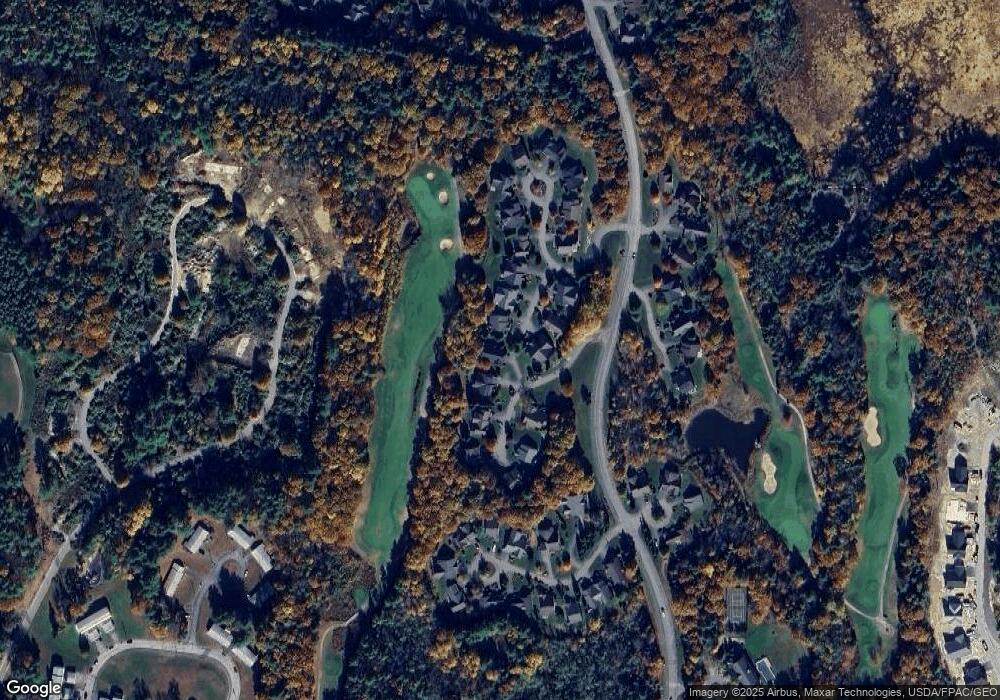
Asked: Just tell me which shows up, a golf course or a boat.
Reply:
golf course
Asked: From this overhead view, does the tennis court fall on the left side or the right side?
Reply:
right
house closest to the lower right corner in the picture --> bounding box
[965,672,988,698]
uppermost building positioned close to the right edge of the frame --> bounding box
[950,472,969,495]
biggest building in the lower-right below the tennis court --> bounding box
[727,655,766,697]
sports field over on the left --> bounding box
[0,334,35,434]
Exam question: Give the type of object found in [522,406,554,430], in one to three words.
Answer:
house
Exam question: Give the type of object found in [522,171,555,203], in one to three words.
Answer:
roundabout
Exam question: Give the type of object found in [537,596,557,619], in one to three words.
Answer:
house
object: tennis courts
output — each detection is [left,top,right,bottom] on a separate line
[727,588,747,633]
